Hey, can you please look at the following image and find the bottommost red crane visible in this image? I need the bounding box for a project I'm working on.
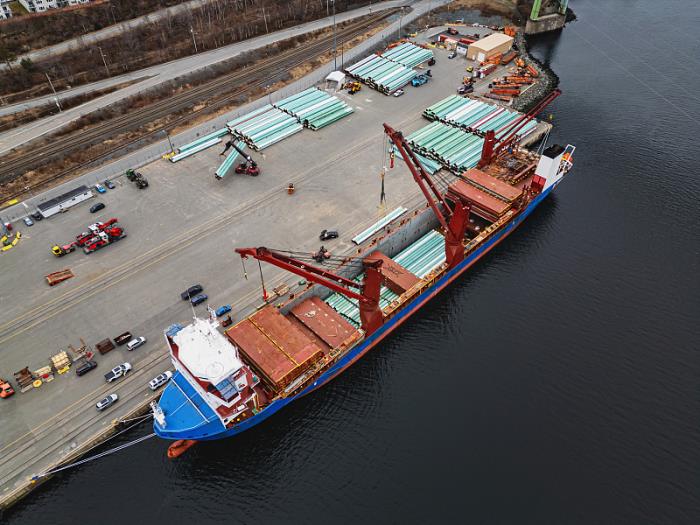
[235,247,383,332]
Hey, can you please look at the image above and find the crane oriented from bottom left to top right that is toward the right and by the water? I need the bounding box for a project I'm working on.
[473,92,558,173]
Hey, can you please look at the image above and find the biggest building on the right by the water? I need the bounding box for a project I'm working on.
[468,33,517,62]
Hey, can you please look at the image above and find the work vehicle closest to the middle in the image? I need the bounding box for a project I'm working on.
[317,228,334,243]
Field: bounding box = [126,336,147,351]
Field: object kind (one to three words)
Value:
car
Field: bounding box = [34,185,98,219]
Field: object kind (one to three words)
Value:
building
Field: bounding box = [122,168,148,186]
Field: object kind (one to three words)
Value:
work vehicle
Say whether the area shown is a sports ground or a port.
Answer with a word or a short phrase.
port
